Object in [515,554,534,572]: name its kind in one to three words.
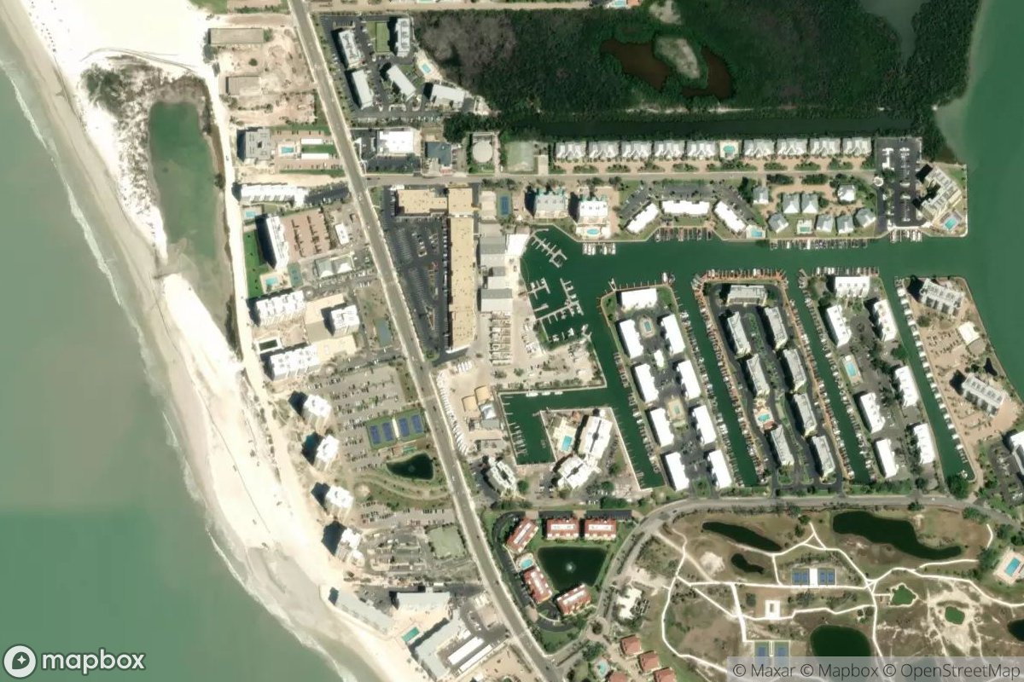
swimming pool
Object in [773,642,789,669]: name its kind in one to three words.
tennis court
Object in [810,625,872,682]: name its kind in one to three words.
pond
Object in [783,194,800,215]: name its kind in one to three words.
house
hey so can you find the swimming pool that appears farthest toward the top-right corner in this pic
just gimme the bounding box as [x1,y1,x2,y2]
[940,210,962,233]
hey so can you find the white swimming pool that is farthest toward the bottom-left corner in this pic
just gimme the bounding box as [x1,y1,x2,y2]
[255,334,282,354]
